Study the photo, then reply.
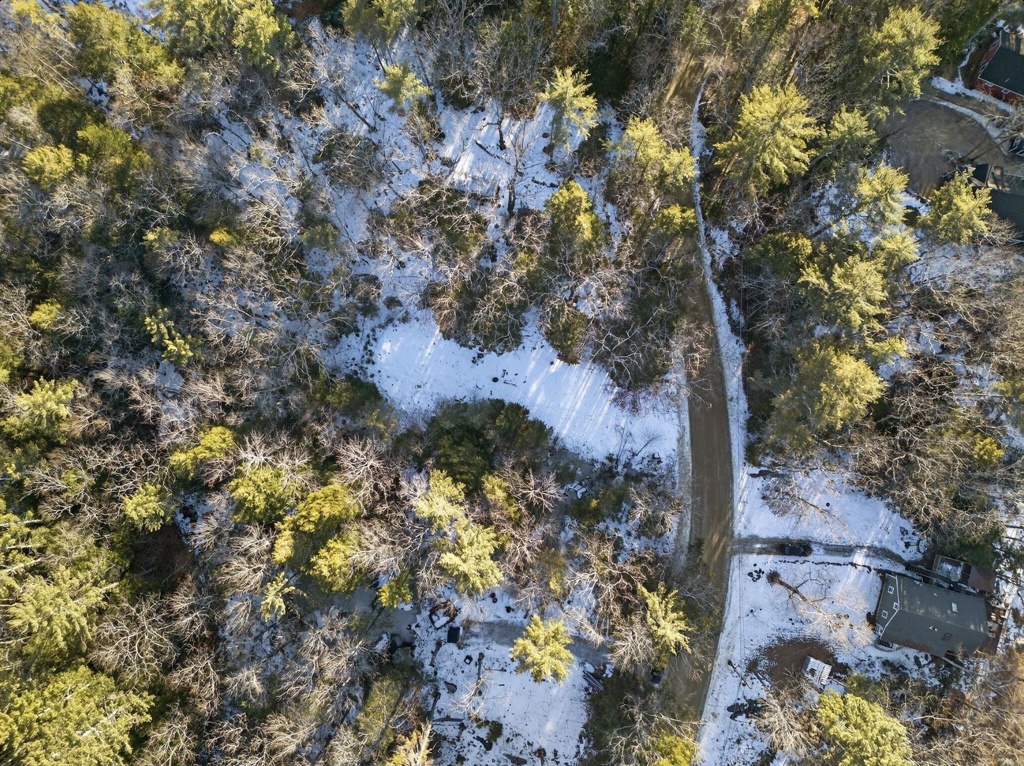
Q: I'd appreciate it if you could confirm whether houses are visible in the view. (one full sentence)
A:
Yes, you can see a house in this photo.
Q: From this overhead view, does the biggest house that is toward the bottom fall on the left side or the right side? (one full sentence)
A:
It is on the right.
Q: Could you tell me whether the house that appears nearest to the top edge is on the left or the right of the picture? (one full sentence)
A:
The house that appears nearest to the top edge sits on the right side.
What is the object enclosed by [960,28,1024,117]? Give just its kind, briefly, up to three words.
house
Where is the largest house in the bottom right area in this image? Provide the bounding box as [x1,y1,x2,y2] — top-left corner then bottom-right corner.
[871,552,1014,665]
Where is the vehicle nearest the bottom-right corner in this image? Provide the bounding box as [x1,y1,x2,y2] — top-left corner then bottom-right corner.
[780,541,811,556]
